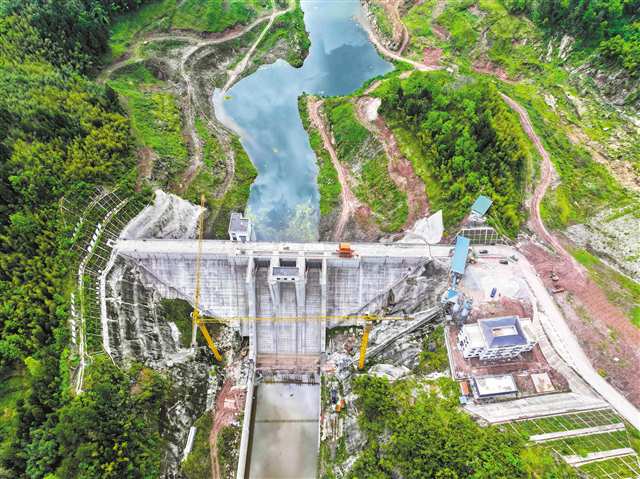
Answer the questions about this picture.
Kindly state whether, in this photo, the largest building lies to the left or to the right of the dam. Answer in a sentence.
To the right of the dam is where the largest building appears.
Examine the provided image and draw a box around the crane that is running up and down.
[193,194,227,366]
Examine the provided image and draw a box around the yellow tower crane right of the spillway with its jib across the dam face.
[206,311,411,373]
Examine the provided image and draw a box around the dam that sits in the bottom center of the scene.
[107,239,452,479]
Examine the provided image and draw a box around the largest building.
[460,316,536,356]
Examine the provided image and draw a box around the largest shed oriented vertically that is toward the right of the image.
[450,235,468,281]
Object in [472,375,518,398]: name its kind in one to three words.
building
